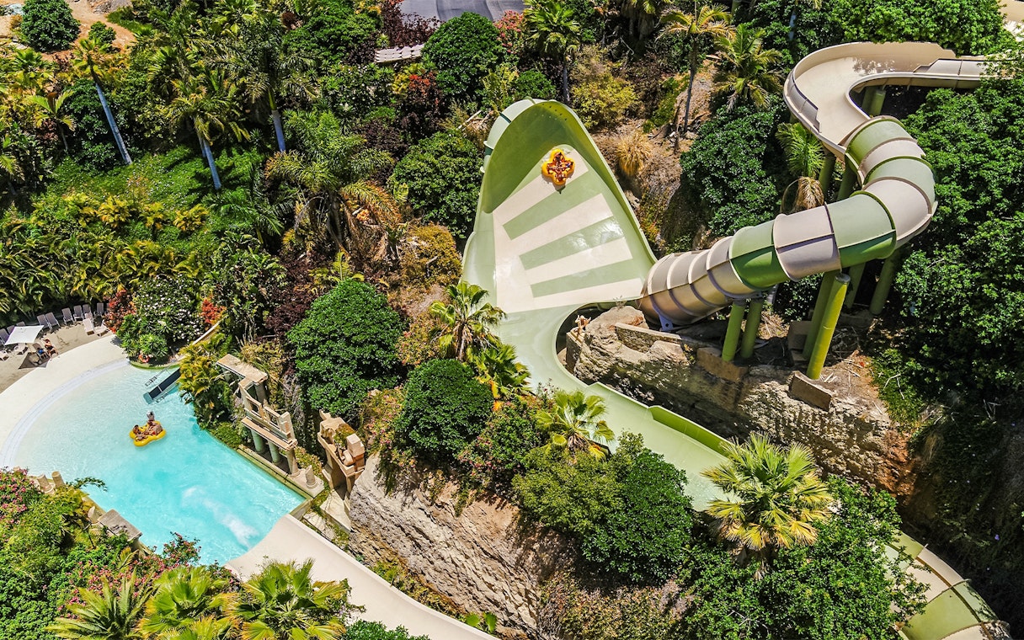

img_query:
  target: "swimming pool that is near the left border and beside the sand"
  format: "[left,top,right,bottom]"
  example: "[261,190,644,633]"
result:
[0,356,294,562]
